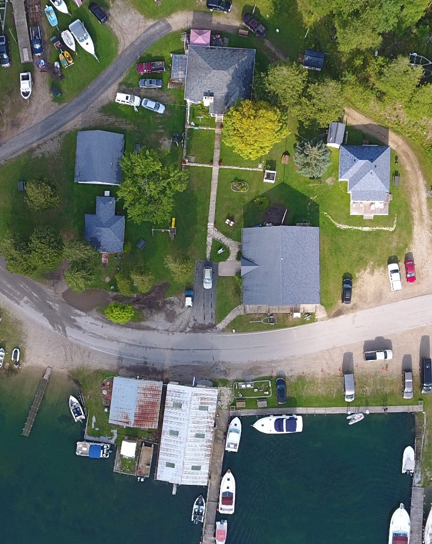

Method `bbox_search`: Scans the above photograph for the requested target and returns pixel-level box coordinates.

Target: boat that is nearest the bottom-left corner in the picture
[77,442,111,459]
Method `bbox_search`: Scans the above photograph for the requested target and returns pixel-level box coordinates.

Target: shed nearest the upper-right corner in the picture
[303,51,325,71]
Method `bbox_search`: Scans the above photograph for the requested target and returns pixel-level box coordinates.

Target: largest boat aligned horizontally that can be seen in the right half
[253,415,304,435]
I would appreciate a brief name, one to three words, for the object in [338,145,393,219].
house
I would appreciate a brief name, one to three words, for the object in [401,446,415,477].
boat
